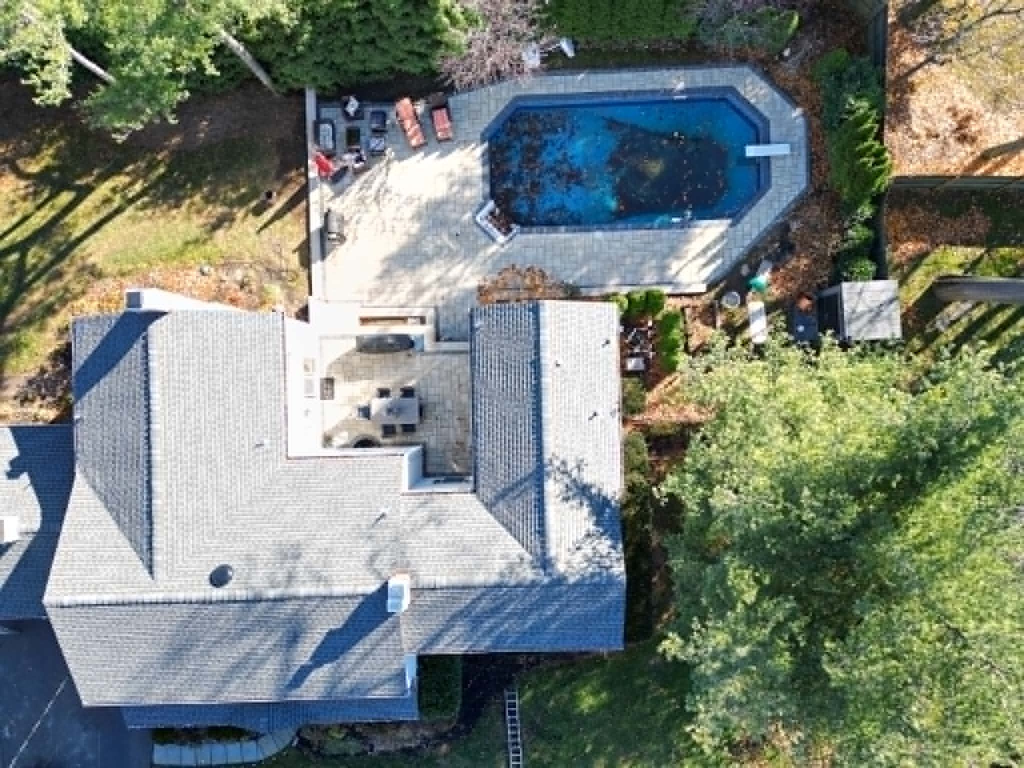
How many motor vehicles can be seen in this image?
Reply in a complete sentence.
Not a single motor vehicle can be seen.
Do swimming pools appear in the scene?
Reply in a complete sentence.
Yes, you can see a swimming pool in this photo.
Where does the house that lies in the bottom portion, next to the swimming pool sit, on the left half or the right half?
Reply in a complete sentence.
The house that lies in the bottom portion, next to the swimming pool is on the left side of the image.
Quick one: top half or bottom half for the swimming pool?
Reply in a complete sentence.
Seen from above, the swimming pool lies in the top half of the view.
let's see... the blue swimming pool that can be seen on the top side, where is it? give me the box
[475,82,772,244]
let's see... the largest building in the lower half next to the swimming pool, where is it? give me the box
[38,286,633,731]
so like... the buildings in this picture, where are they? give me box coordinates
[817,279,902,344]
[38,286,633,731]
